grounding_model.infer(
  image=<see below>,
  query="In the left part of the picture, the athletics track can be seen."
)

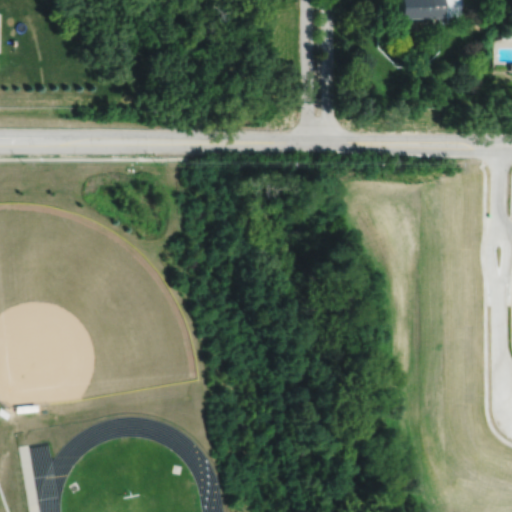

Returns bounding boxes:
[31,417,224,512]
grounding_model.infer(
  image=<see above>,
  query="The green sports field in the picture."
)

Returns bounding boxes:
[61,438,204,512]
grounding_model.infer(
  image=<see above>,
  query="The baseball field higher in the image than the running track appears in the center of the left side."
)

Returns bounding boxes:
[0,204,198,405]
